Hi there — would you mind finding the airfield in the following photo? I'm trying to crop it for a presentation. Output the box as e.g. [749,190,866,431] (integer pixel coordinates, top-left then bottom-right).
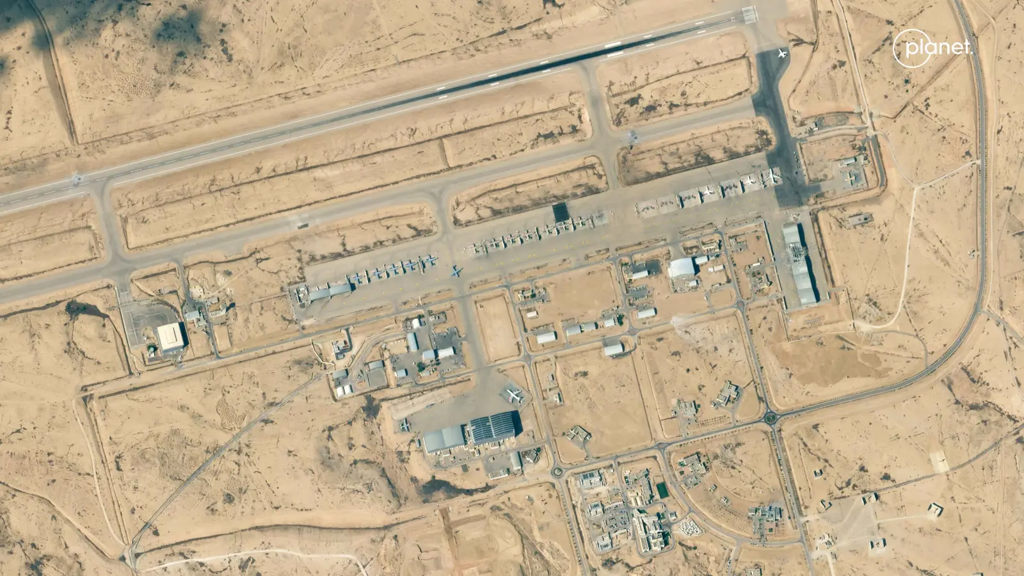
[0,0,868,432]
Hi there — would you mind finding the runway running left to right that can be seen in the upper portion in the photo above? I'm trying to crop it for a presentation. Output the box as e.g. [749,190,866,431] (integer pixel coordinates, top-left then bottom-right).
[0,0,788,219]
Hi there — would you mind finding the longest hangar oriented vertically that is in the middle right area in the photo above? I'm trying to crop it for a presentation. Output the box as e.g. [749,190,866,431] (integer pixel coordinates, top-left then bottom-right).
[782,223,817,307]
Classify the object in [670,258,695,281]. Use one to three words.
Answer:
hangar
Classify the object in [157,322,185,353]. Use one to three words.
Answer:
hangar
